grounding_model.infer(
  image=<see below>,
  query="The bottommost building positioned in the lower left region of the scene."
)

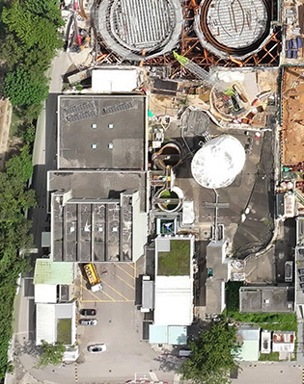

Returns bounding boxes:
[35,297,82,358]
